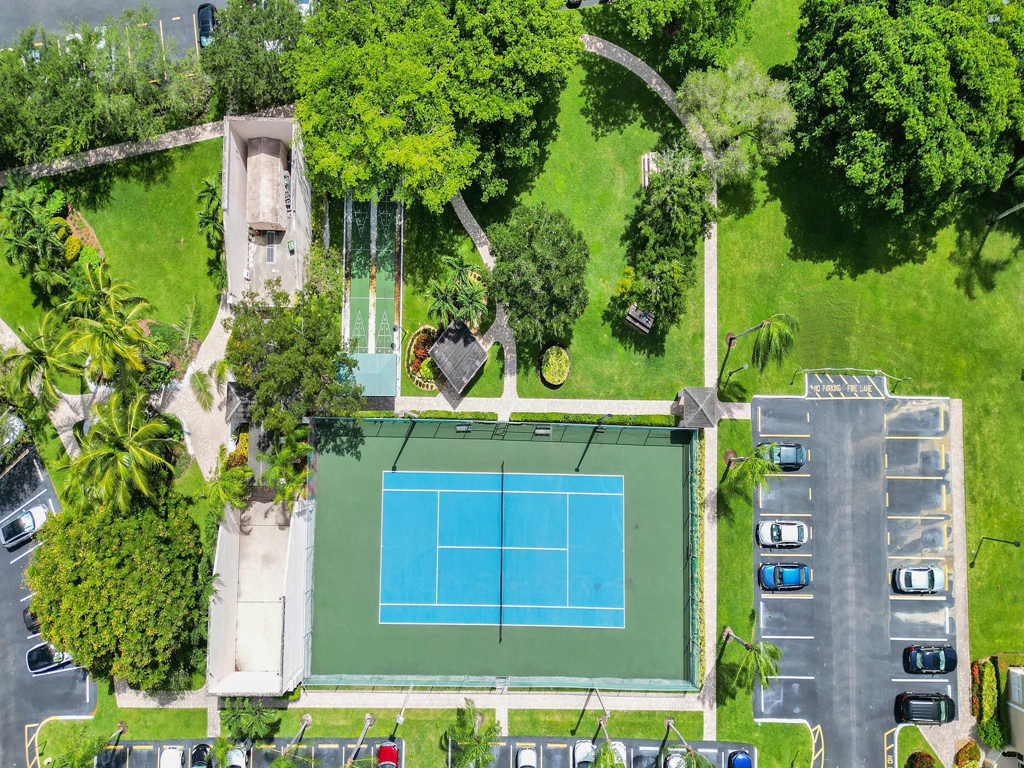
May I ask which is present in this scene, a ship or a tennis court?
tennis court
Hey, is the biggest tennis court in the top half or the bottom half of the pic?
bottom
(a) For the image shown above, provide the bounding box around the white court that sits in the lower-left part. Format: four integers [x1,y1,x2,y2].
[204,498,306,697]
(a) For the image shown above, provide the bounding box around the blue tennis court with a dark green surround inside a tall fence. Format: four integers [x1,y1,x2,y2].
[313,420,690,680]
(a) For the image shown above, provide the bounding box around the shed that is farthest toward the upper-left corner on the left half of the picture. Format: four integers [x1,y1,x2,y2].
[247,137,286,229]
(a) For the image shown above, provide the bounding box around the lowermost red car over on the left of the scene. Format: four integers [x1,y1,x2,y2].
[376,740,399,768]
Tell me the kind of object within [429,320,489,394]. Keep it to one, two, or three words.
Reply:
building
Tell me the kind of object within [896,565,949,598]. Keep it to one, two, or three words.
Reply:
car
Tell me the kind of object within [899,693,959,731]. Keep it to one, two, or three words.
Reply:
car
